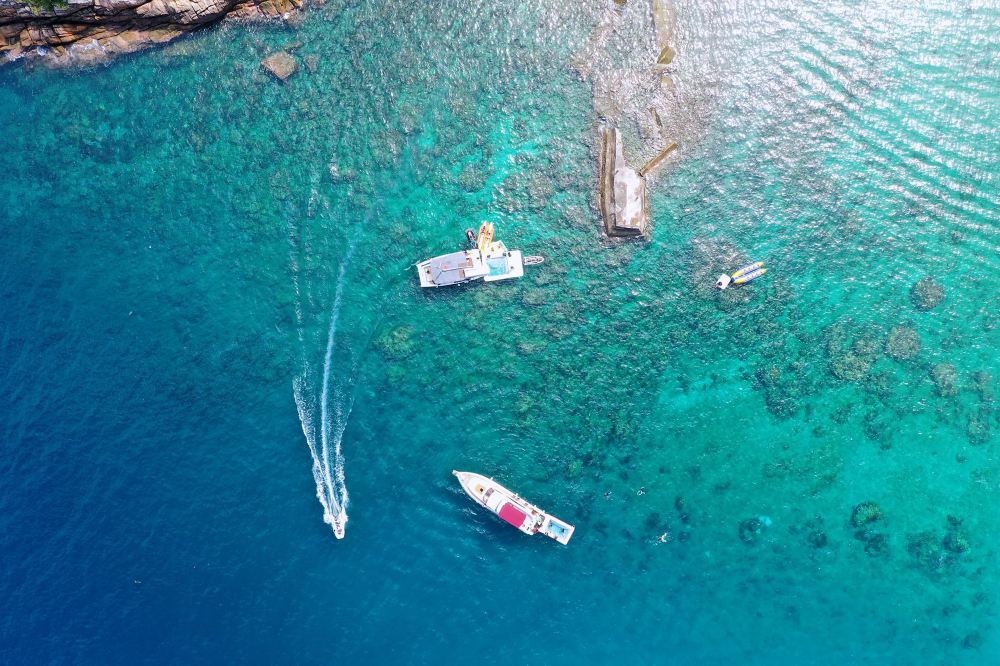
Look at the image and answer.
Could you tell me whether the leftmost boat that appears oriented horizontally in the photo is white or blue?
white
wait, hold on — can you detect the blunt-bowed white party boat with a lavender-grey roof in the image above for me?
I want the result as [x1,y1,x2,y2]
[404,248,485,290]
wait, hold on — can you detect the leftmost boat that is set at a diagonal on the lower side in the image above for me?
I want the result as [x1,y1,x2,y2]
[450,472,546,535]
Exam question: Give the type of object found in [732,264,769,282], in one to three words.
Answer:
boat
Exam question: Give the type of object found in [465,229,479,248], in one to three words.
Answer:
boat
